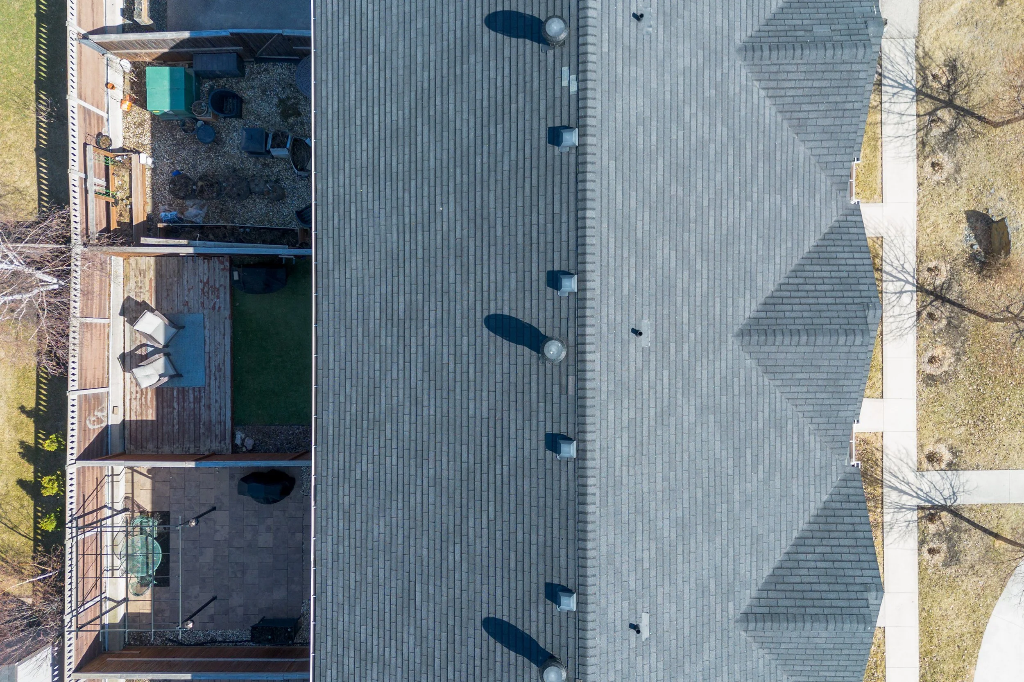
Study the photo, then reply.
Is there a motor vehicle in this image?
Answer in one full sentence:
No, there's no motor vehicle here.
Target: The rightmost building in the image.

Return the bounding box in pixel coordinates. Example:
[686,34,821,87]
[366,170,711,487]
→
[311,0,882,682]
